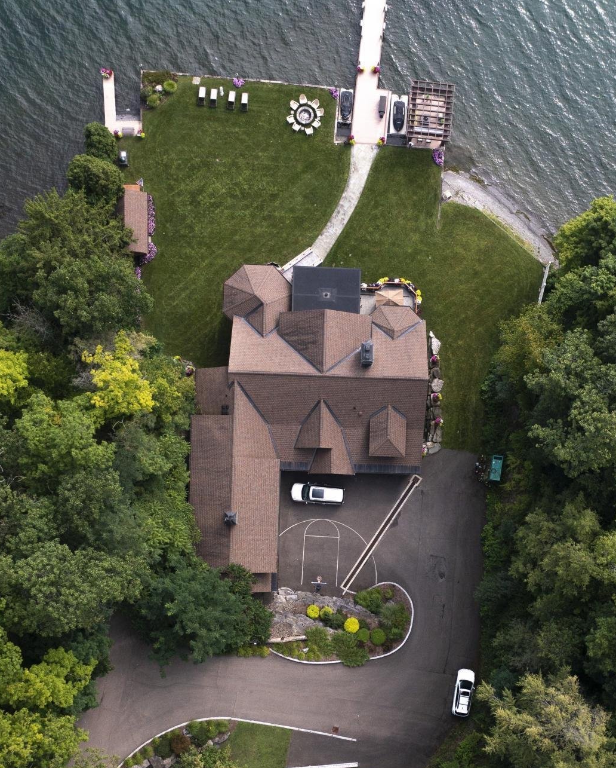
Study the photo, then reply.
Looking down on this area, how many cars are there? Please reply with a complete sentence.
The photo contains 2 cars.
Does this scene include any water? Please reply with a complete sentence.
Yes, water shows up in the scene.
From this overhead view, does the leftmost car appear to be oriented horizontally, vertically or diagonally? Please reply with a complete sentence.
Seen from above, the leftmost car lies horizontally.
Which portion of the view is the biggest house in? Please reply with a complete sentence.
The biggest house sits in the center section of the image.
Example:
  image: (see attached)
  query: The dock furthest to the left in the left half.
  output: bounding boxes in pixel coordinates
[103,71,141,136]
